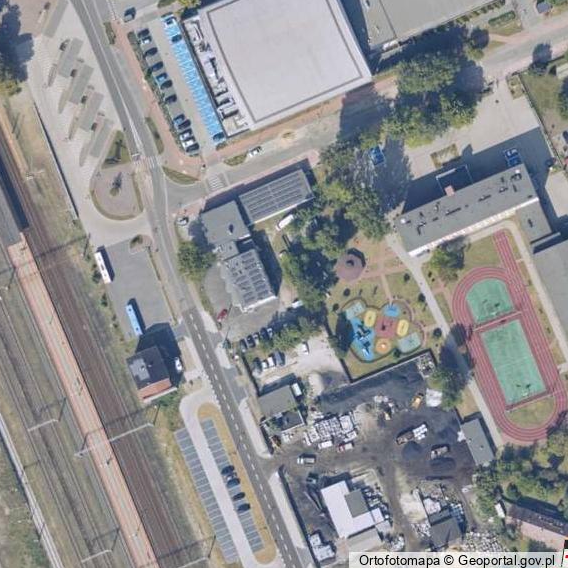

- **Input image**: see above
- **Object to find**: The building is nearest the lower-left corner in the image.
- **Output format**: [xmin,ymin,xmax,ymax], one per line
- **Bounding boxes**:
[125,346,177,404]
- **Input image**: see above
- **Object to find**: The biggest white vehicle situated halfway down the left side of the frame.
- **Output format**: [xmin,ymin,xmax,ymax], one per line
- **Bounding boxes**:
[94,250,112,284]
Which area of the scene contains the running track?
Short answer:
right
